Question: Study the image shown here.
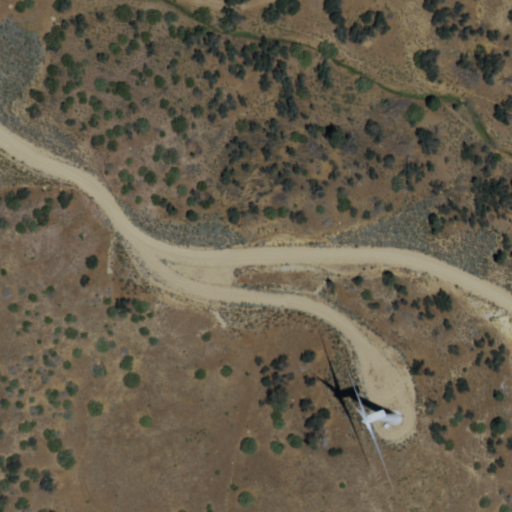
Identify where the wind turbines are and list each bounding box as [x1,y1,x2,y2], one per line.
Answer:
[345,360,403,492]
